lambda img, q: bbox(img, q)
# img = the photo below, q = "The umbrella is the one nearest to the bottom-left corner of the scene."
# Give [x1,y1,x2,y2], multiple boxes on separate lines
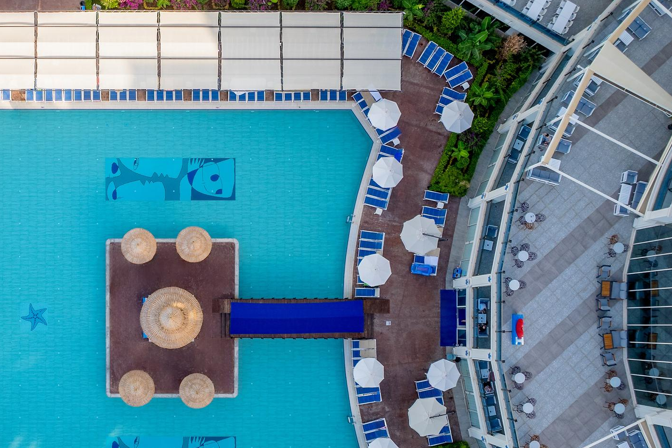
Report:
[119,370,155,407]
